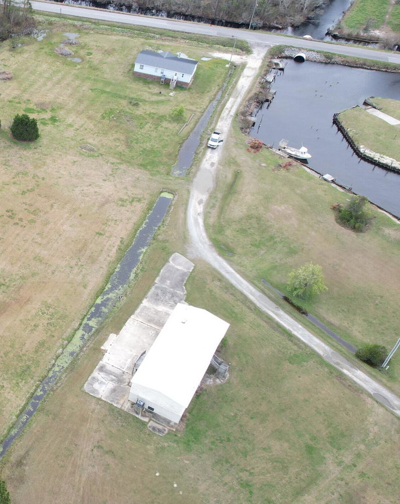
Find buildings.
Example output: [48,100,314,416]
[128,304,228,426]
[134,49,199,87]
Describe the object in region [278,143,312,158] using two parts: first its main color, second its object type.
white boat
